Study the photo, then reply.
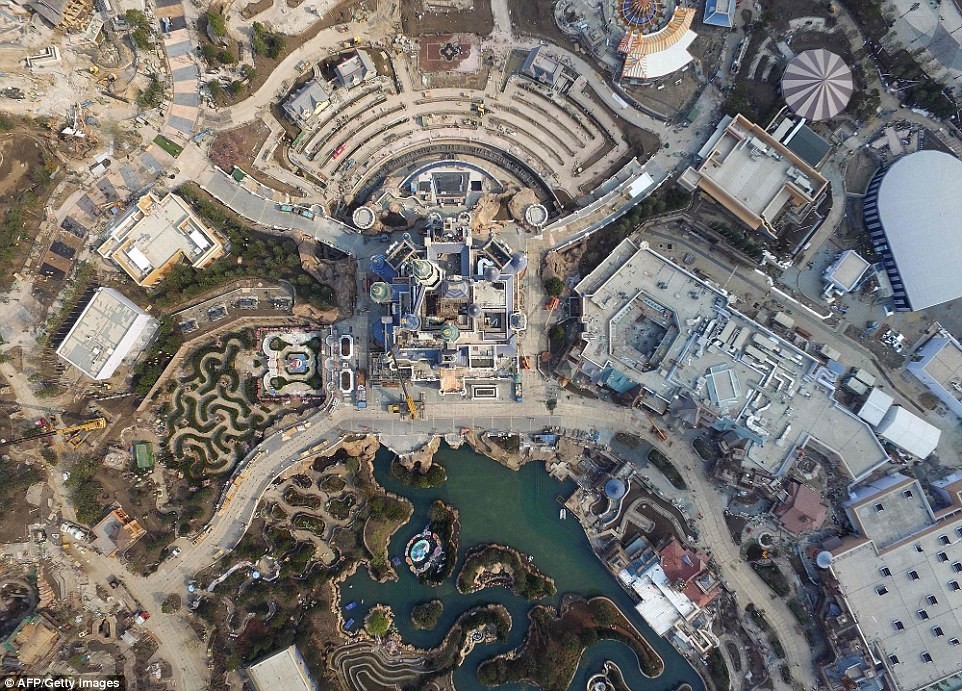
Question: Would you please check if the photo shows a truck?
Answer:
Yes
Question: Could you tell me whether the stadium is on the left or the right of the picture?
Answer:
right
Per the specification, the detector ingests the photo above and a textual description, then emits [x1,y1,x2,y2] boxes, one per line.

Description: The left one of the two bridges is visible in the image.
[199,165,358,256]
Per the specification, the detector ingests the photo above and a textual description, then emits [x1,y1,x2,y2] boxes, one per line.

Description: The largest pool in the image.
[412,543,428,561]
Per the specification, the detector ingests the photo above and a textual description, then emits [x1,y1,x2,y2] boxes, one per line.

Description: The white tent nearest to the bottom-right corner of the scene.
[877,406,941,459]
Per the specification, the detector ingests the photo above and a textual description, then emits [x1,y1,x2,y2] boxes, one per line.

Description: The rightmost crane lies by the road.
[386,347,421,423]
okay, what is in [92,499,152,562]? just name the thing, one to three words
house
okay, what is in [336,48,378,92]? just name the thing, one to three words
house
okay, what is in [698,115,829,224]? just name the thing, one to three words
building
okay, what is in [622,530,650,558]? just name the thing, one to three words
shed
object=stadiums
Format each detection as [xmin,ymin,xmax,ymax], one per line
[864,150,962,312]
